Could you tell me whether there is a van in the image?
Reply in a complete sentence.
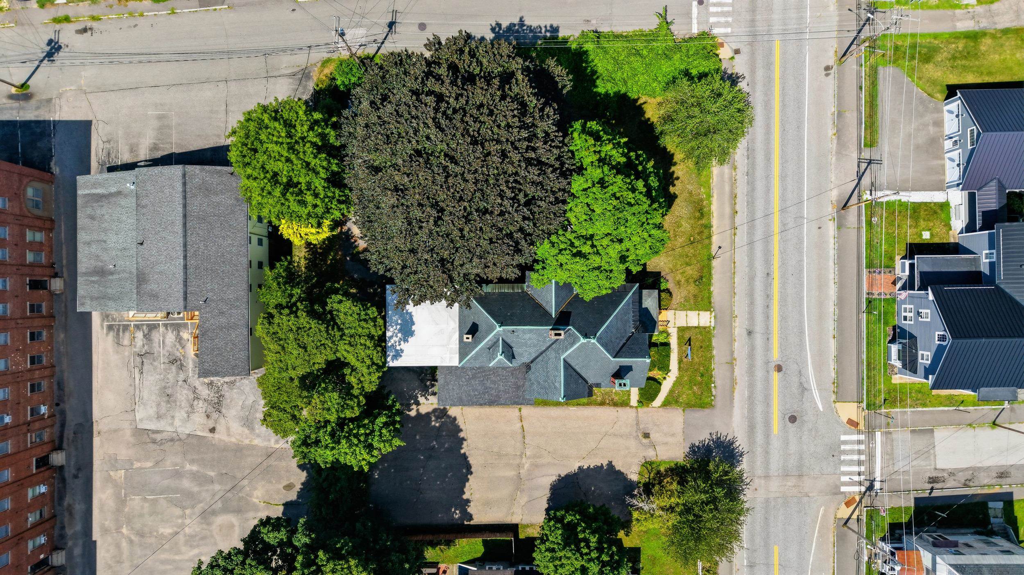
No, I can't see a single van in this photo.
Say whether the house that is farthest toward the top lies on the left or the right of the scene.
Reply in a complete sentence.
The house that is farthest toward the top appears in the right half of the scene.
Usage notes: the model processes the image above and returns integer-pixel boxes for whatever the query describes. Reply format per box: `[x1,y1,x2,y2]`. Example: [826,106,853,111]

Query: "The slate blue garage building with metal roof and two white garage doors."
[944,89,1024,190]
